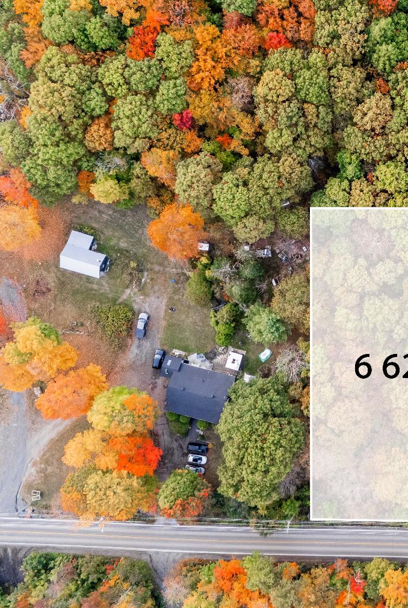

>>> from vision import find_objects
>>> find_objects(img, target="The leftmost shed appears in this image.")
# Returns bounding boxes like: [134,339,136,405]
[60,231,109,277]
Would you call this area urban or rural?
rural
